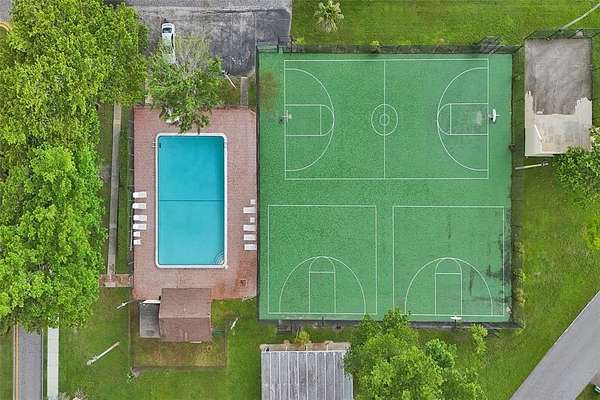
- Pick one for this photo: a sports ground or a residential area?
sports ground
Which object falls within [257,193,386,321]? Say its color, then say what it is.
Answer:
green basketball court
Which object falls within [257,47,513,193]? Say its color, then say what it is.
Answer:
green basketball court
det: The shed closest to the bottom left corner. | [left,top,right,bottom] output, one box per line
[156,287,213,343]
